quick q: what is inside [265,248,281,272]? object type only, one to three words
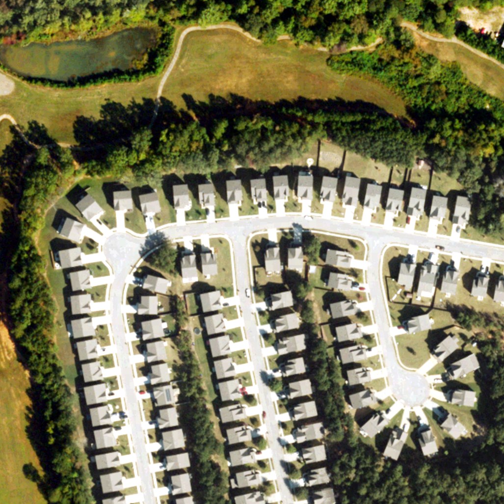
house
